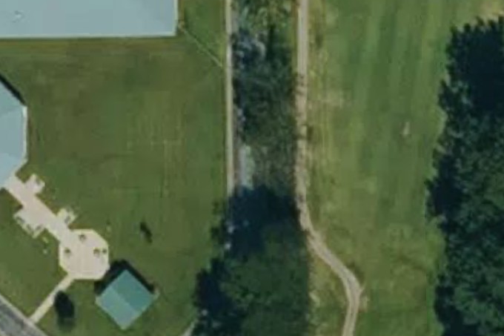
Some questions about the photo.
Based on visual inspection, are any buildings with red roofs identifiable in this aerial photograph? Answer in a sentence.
No, I can't see a single building with a red roof in this photo.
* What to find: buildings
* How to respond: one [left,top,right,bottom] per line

[96,269,156,329]
[0,0,176,36]
[0,79,27,189]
